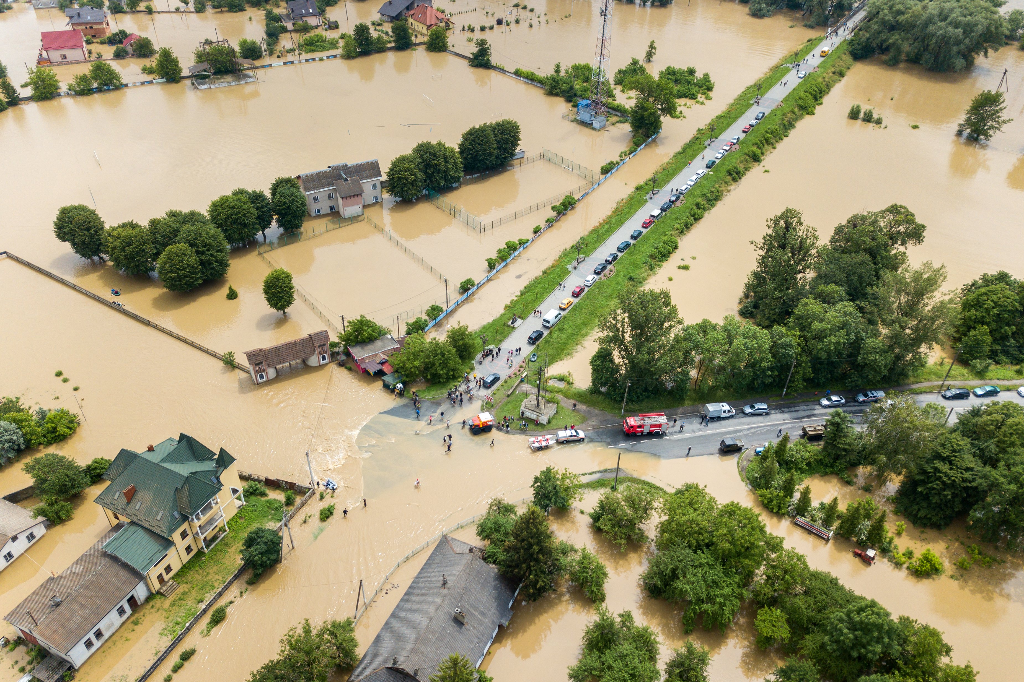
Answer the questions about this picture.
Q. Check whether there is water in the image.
Yes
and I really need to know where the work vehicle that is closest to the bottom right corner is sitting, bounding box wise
[842,548,876,571]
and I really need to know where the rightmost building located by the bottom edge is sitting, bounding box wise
[346,535,526,682]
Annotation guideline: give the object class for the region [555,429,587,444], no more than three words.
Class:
vehicle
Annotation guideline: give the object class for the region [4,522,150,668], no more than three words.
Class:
barn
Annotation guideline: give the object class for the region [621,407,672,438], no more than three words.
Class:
truck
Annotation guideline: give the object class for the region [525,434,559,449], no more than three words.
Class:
boat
